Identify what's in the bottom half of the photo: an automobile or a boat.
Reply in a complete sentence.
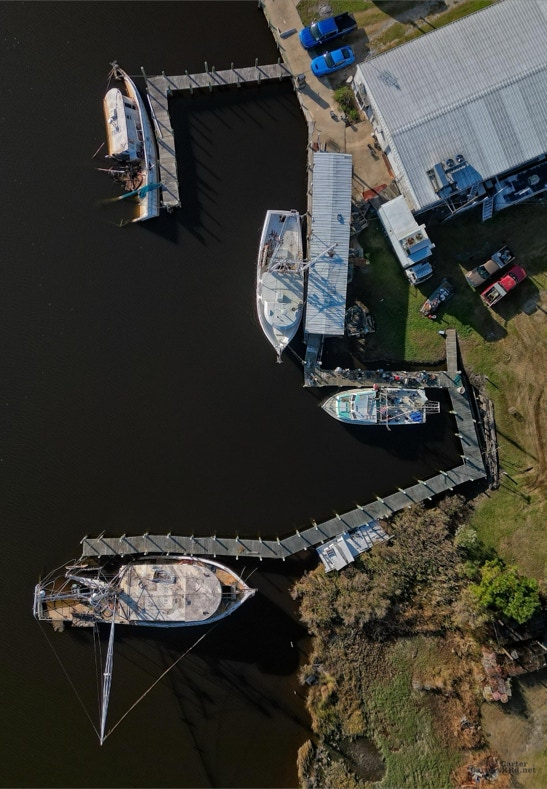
The feature located in the bottom half of the photo is a boat.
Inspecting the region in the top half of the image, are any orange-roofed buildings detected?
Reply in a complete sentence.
No, there is no orange-roofed building in the top half of the image.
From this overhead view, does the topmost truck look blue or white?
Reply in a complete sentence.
In this view, the topmost truck is blue.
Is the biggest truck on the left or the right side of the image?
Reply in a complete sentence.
It is on the right.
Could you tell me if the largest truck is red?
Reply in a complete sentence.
No, the largest truck is actually white.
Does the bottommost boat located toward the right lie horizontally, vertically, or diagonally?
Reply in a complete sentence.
The bottommost boat located toward the right is laid out horizontally.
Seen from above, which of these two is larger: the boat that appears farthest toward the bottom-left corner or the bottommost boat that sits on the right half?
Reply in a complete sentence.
It is the boat that appears farthest toward the bottom-left corner that is larger, not the bottommost boat that sits on the right half.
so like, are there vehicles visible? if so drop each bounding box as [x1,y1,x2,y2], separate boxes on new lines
[309,39,360,76]
[297,1,361,49]
[377,195,435,288]
[464,240,521,287]
[481,261,534,310]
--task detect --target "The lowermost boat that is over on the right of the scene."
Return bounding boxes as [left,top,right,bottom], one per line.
[320,384,447,436]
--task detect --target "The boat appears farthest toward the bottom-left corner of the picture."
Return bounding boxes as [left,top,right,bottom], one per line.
[27,552,259,746]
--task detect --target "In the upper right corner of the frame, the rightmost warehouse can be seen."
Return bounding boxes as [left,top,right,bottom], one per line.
[351,0,547,217]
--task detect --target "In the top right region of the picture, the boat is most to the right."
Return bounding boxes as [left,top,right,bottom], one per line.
[492,167,547,223]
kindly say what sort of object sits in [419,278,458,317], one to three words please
trailer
